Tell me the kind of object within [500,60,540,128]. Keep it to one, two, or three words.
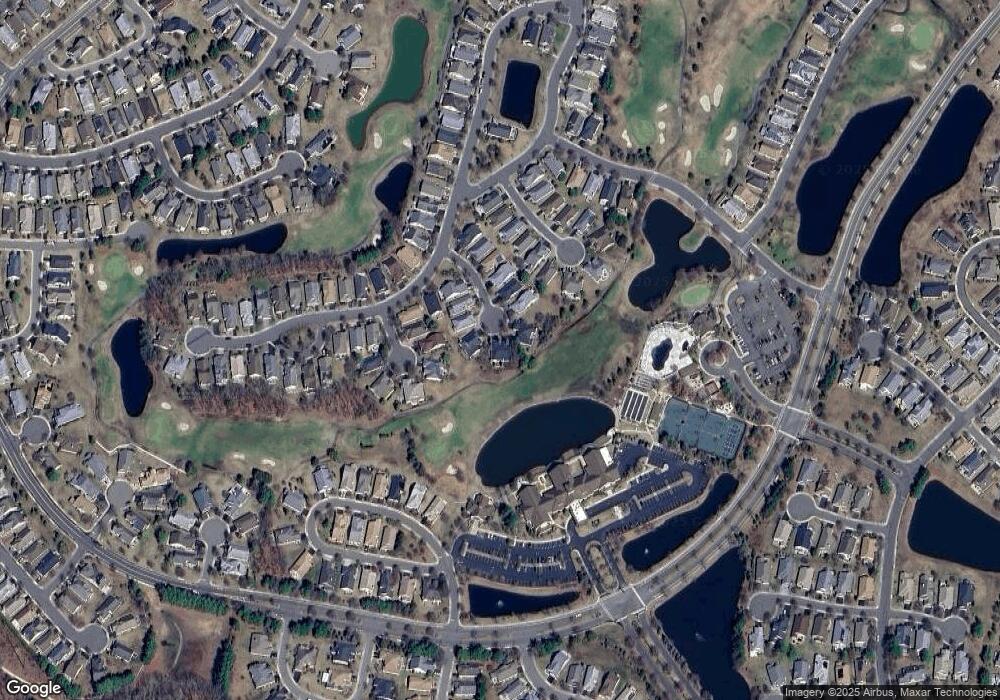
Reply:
pond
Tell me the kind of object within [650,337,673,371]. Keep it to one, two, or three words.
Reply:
swimming pool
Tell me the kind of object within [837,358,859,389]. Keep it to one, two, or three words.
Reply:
house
